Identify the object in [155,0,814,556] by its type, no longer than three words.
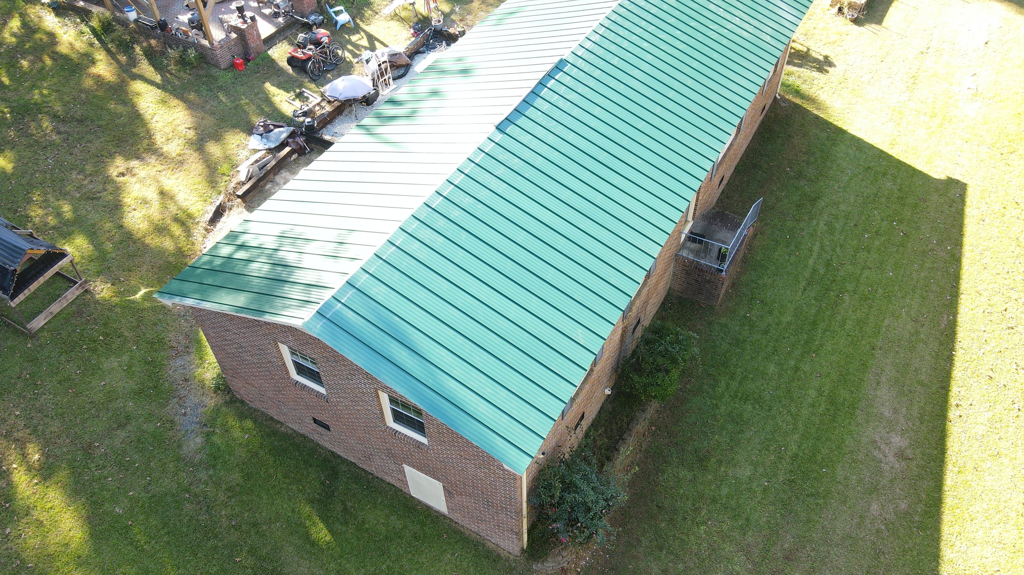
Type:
house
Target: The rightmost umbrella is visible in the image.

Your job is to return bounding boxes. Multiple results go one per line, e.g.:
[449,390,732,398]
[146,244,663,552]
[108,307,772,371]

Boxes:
[323,70,372,118]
